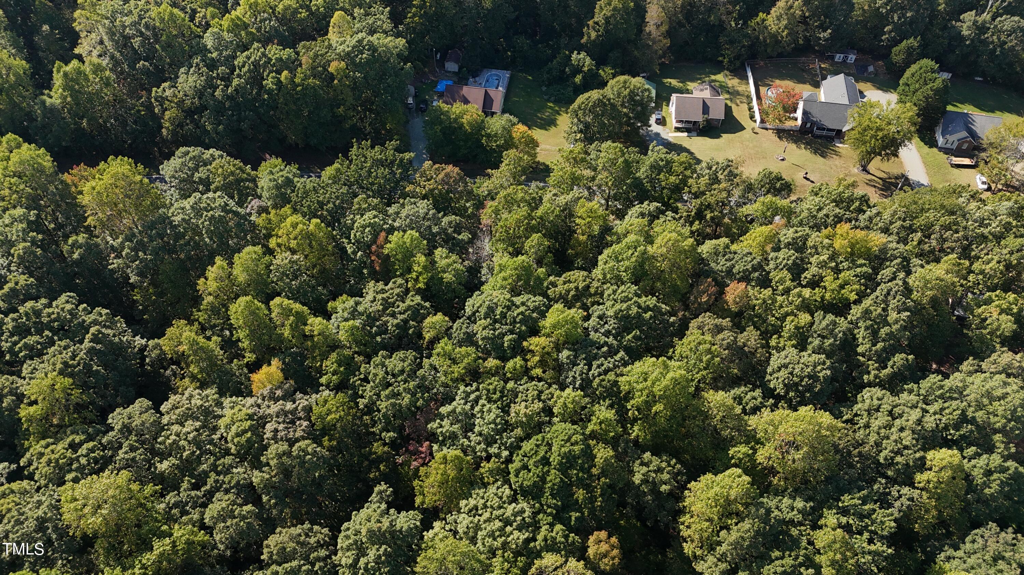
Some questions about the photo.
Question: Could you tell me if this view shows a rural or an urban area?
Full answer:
The land in this view is best described as rural.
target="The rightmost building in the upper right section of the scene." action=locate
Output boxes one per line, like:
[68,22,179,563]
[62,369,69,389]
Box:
[931,112,1004,153]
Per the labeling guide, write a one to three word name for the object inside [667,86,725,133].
house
